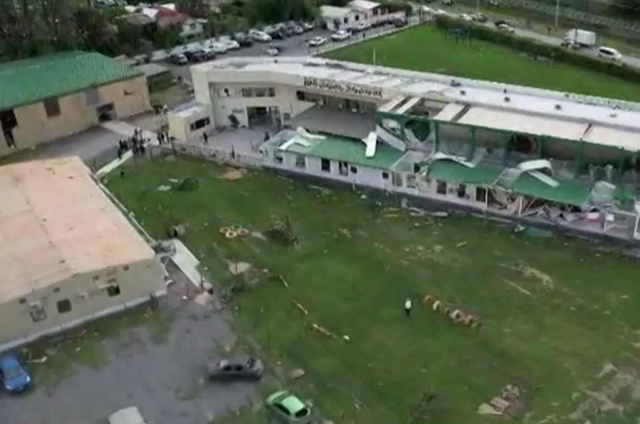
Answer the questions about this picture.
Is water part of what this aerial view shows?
No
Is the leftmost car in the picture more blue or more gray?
blue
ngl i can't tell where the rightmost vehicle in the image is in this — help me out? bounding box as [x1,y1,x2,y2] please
[598,46,623,61]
